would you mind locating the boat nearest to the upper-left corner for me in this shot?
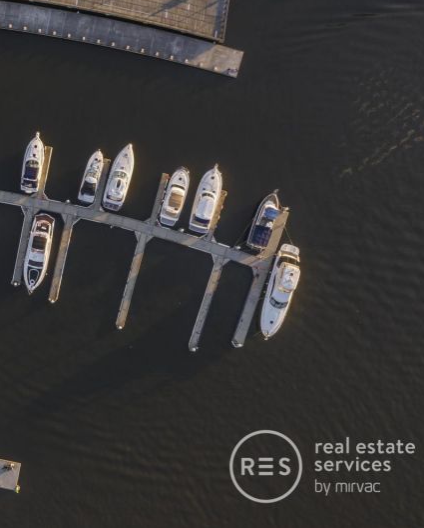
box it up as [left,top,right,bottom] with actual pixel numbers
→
[20,130,45,193]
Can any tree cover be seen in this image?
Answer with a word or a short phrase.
No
